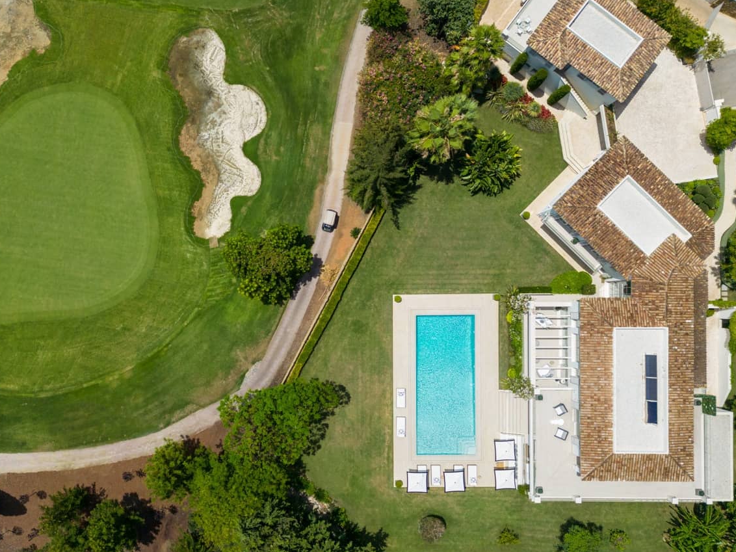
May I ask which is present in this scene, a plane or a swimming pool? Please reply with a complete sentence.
The one in the frame is a swimming pool.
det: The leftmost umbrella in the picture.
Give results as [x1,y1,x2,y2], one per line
[406,471,428,493]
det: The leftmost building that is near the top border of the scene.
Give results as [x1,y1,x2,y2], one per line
[492,0,673,110]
